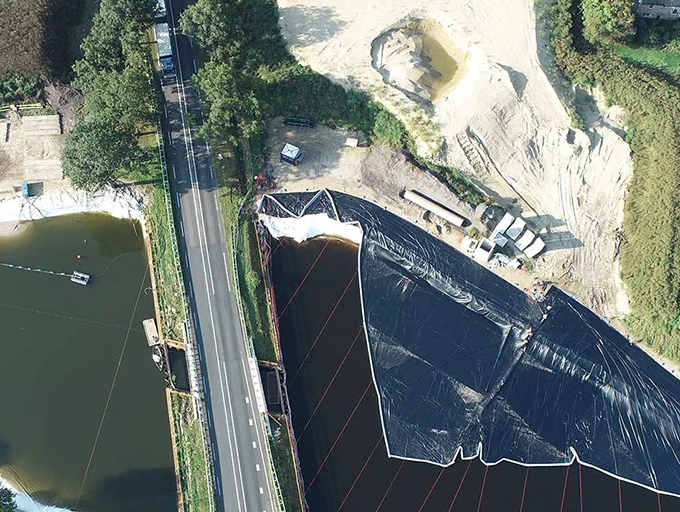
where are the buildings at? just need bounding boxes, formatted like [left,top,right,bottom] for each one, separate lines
[624,0,680,20]
[281,147,299,167]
